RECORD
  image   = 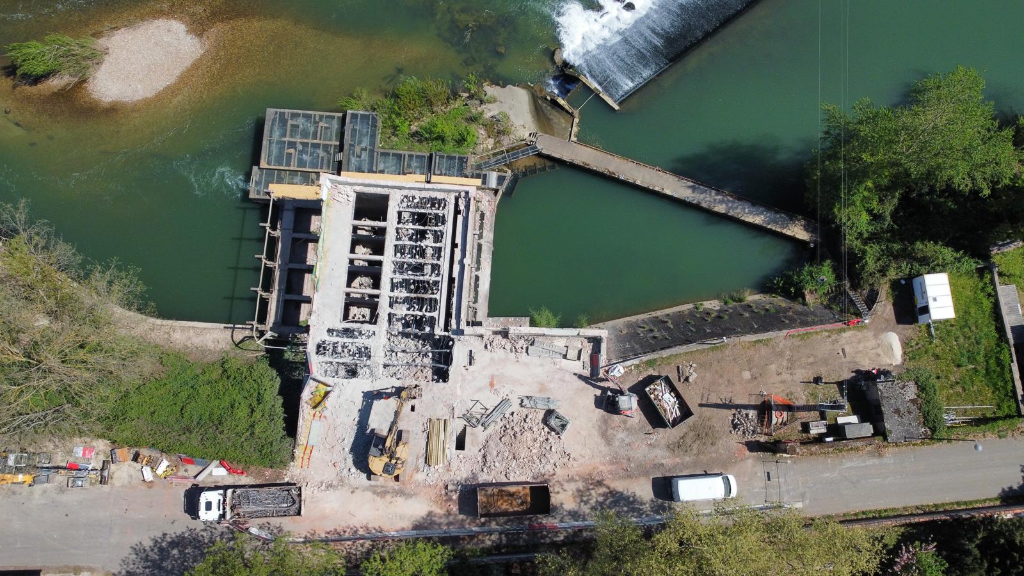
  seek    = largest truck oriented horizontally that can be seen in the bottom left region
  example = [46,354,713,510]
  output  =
[200,481,308,526]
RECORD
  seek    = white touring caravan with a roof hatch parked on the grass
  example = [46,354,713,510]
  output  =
[908,274,954,340]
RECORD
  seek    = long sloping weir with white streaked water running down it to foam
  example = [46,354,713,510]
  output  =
[572,0,760,106]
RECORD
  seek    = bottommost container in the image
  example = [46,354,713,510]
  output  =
[477,481,551,517]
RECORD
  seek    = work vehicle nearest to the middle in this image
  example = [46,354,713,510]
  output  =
[604,368,639,417]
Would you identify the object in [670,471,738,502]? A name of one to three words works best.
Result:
van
